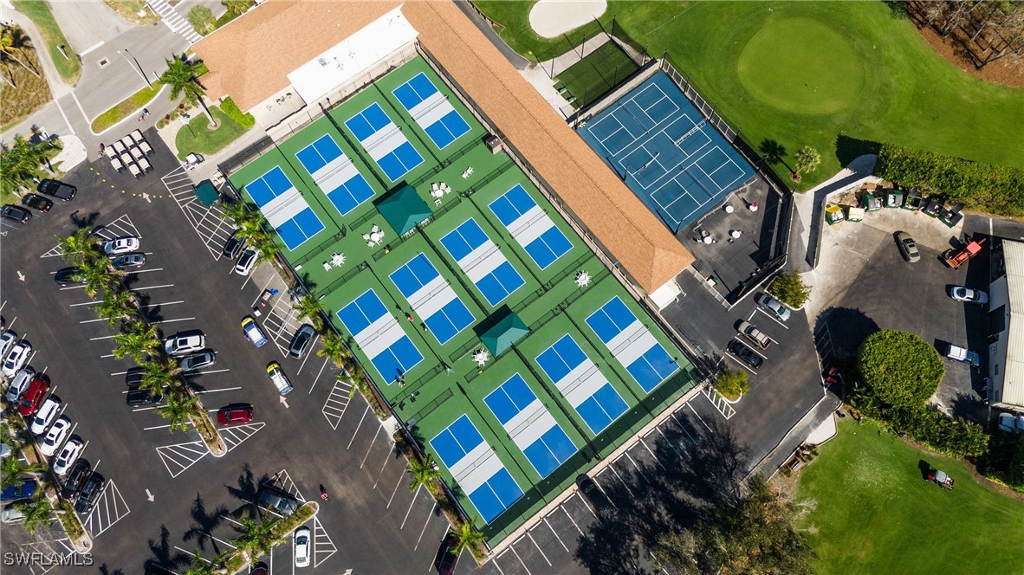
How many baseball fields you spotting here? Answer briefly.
zero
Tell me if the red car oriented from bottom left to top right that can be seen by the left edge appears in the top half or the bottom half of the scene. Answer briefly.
bottom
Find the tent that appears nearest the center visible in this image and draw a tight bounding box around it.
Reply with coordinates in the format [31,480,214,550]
[479,311,530,360]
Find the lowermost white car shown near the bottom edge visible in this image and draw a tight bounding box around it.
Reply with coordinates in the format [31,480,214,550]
[294,527,312,567]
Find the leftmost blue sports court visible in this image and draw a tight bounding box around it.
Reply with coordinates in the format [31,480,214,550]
[245,165,325,251]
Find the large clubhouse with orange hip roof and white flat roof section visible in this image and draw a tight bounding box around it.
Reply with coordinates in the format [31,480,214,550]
[190,0,419,117]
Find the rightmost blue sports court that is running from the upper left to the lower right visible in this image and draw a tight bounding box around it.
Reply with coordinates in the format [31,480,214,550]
[585,295,680,394]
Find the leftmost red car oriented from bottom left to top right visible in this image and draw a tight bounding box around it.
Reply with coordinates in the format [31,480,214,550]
[18,378,51,415]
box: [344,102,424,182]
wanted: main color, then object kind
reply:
blue sports court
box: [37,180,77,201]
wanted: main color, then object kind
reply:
black truck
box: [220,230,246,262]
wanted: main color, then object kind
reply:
black car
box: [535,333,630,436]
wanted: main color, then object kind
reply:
blue sports court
